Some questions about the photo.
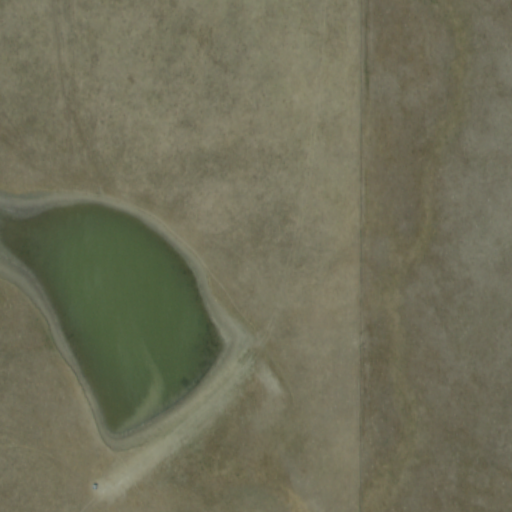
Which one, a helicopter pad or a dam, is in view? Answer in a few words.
dam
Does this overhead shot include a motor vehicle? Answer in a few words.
No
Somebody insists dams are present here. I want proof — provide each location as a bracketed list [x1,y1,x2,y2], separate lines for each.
[108,334,265,503]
